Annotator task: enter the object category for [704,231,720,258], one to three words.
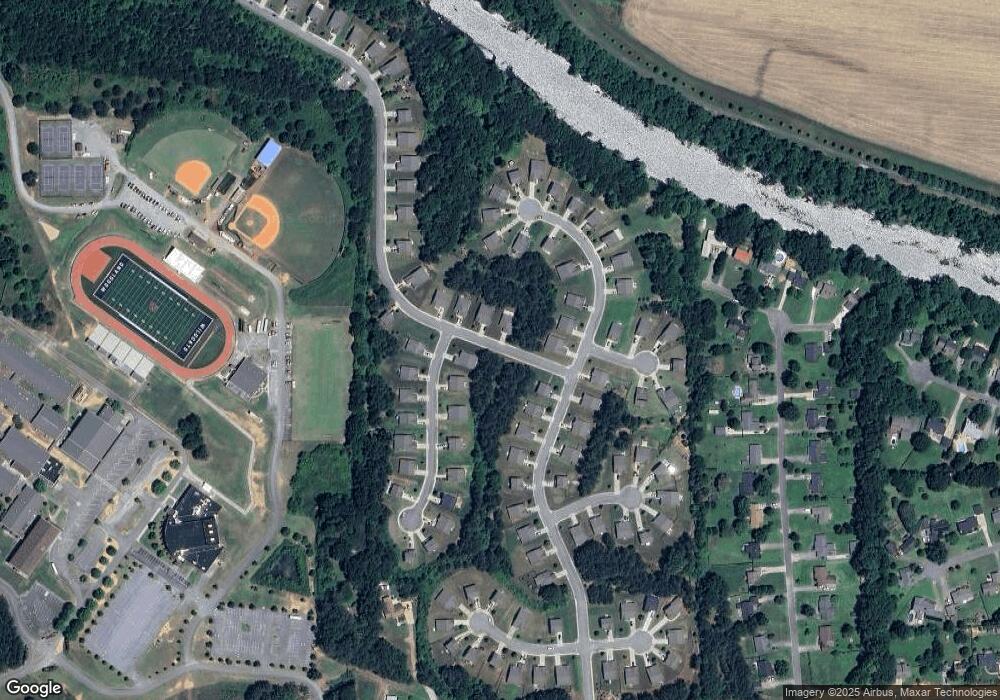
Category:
house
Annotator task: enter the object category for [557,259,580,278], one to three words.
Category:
house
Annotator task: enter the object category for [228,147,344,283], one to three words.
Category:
baseball field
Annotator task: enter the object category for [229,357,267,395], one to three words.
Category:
building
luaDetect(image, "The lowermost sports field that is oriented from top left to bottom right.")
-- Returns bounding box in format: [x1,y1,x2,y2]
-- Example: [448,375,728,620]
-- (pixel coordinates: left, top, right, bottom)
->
[94,254,213,360]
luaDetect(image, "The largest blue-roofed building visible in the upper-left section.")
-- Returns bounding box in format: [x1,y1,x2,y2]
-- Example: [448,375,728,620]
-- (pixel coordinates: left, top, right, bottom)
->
[257,138,282,167]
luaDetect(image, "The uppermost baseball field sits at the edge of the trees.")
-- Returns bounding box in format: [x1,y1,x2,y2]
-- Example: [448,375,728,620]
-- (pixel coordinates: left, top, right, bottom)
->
[128,111,240,195]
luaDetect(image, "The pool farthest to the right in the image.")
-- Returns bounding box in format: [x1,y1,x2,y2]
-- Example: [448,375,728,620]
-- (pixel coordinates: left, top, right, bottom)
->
[953,432,970,455]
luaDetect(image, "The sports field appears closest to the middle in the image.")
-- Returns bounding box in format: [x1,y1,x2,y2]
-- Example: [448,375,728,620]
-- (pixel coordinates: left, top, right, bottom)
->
[291,318,350,441]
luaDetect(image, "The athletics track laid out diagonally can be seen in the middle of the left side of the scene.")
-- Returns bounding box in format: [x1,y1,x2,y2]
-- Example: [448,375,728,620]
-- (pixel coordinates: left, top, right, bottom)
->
[71,236,235,379]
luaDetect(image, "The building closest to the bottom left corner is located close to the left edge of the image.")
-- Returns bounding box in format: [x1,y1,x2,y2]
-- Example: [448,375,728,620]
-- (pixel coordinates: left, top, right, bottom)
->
[8,517,62,578]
